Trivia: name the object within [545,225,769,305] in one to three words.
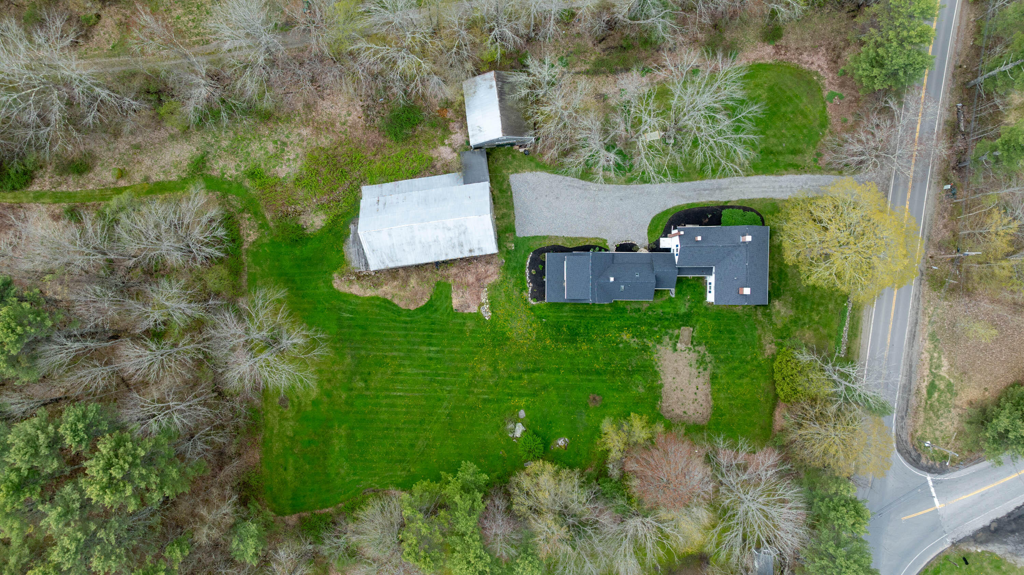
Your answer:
house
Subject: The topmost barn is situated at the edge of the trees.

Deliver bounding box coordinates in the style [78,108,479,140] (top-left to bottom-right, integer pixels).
[462,70,534,149]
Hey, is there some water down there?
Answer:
No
